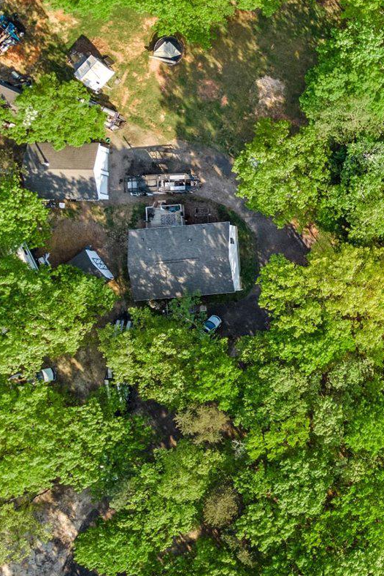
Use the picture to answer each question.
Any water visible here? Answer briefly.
No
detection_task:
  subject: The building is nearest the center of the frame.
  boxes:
[126,201,243,301]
